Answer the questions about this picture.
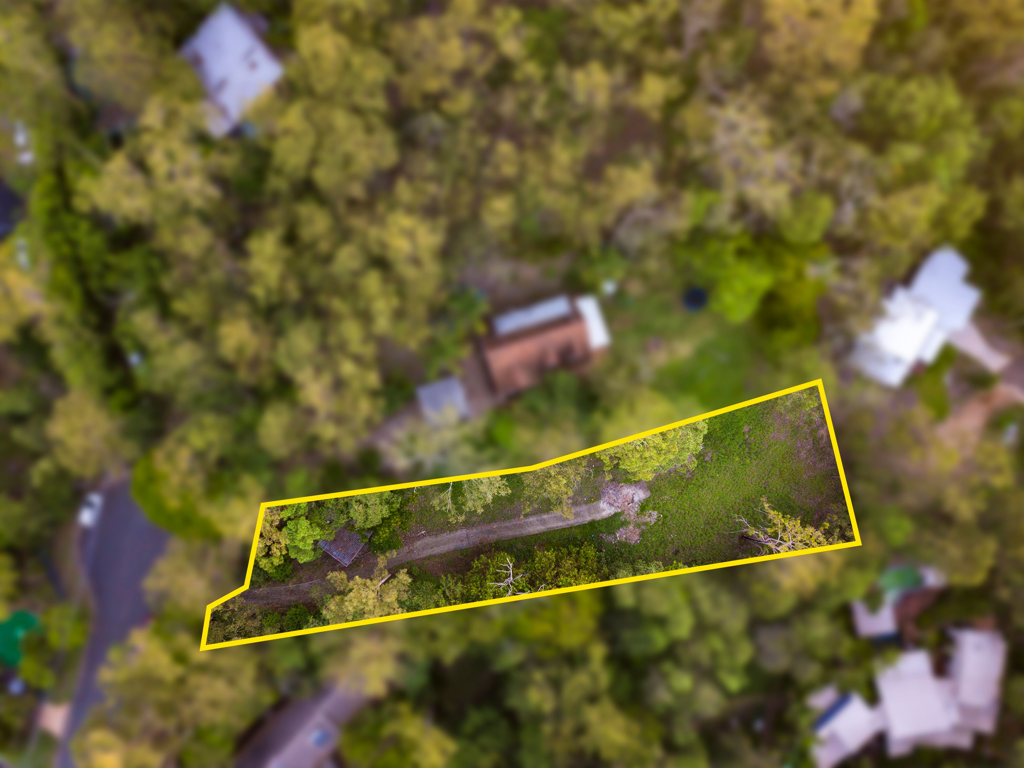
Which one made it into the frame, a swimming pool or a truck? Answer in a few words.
swimming pool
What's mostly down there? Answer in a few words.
trees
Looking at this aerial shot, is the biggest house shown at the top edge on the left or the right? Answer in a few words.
left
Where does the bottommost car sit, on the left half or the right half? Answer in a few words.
left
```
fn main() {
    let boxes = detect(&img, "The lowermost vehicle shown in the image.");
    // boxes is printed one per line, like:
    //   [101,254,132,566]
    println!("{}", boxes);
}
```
[74,494,99,529]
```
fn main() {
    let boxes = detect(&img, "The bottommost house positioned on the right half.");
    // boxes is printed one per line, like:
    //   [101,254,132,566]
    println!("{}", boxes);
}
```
[809,630,1007,768]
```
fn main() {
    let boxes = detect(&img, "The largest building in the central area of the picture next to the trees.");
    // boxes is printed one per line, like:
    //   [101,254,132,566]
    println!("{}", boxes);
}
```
[485,293,611,397]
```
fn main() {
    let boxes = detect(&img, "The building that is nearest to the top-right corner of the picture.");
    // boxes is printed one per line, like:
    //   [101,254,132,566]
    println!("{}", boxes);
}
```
[846,246,981,387]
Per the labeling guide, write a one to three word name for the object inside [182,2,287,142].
house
